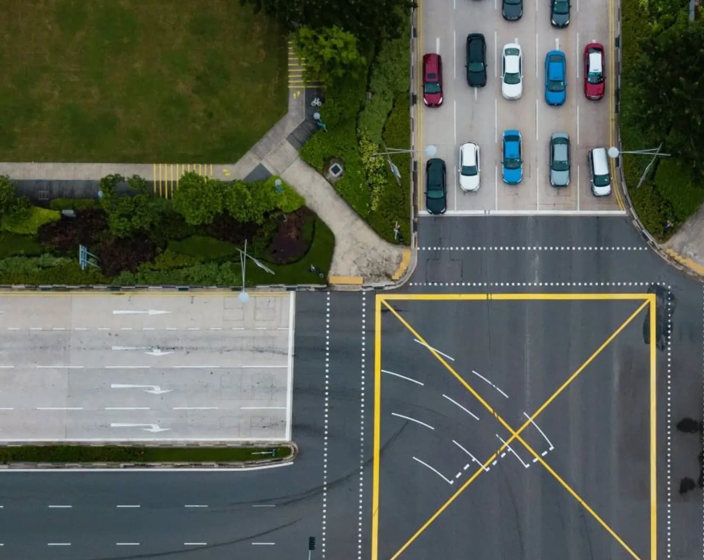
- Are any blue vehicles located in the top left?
No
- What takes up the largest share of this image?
paved ground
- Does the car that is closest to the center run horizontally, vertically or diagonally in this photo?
vertically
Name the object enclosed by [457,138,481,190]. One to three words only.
car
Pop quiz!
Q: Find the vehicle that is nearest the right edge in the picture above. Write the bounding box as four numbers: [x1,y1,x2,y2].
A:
[582,41,607,98]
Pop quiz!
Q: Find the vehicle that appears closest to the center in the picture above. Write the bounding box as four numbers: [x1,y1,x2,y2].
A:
[422,156,449,212]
